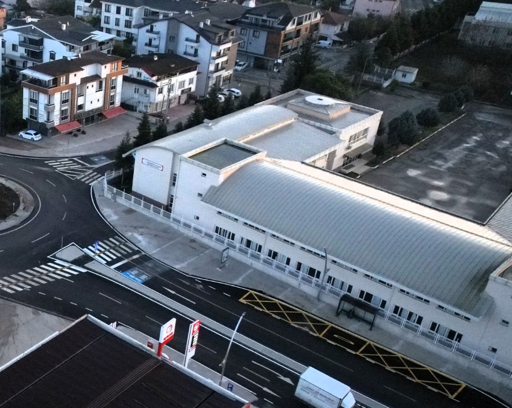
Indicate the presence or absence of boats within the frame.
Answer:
No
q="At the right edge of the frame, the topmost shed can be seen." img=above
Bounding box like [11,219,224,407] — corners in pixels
[460,0,512,43]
